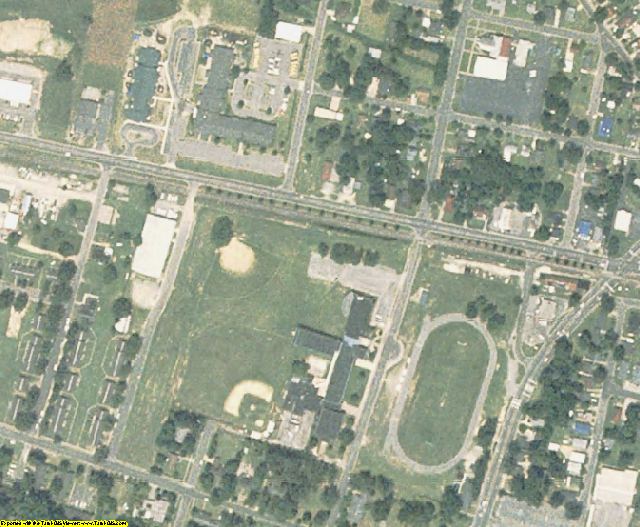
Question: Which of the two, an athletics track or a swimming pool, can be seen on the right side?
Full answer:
You can see an athletics track on the right side.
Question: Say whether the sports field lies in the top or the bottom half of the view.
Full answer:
You can find the sports field in the bottom half.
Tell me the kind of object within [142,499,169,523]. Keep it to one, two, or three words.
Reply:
building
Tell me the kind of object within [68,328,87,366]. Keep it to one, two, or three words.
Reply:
building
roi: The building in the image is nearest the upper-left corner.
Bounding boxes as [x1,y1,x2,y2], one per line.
[0,78,33,107]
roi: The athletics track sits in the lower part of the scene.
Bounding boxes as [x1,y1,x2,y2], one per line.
[392,313,497,474]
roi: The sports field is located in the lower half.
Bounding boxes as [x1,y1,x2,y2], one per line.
[401,323,488,464]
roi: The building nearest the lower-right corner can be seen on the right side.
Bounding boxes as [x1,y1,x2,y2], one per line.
[596,469,639,506]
